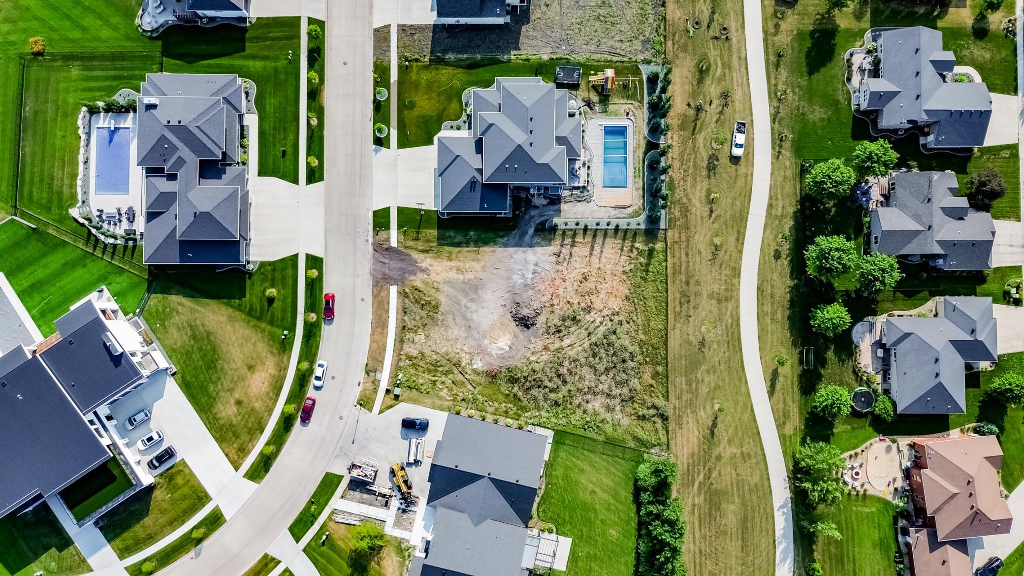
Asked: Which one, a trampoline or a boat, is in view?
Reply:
trampoline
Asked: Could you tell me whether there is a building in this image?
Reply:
Yes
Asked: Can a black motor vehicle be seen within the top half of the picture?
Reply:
No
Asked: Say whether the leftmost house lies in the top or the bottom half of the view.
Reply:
bottom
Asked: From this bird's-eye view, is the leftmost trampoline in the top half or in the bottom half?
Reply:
top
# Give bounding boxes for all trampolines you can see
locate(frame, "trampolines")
[556,61,582,85]
[854,388,878,414]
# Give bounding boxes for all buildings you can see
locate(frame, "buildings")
[854,26,991,148]
[409,412,548,576]
[437,77,583,212]
[436,0,506,25]
[875,296,998,414]
[865,171,996,270]
[0,298,177,528]
[136,73,255,265]
[186,0,251,18]
[899,429,1014,576]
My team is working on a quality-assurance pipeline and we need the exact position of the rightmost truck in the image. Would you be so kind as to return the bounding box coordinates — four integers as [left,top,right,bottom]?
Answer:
[974,553,1006,576]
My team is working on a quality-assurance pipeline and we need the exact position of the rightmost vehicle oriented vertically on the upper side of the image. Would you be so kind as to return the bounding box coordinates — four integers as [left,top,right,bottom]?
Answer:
[730,121,746,157]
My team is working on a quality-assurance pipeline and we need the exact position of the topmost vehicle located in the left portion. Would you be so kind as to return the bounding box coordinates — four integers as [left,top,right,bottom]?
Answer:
[324,293,336,318]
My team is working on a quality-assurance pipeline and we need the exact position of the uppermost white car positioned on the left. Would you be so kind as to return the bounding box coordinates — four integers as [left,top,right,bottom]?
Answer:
[313,360,328,387]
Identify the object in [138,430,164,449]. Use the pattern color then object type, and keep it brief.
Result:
white car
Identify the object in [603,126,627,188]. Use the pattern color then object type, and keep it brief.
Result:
blue swimming pool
